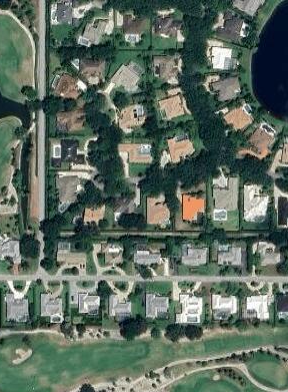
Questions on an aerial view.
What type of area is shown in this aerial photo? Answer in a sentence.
What you see here is a residential area.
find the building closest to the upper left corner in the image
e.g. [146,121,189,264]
[56,0,72,22]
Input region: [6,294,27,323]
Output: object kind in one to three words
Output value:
house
